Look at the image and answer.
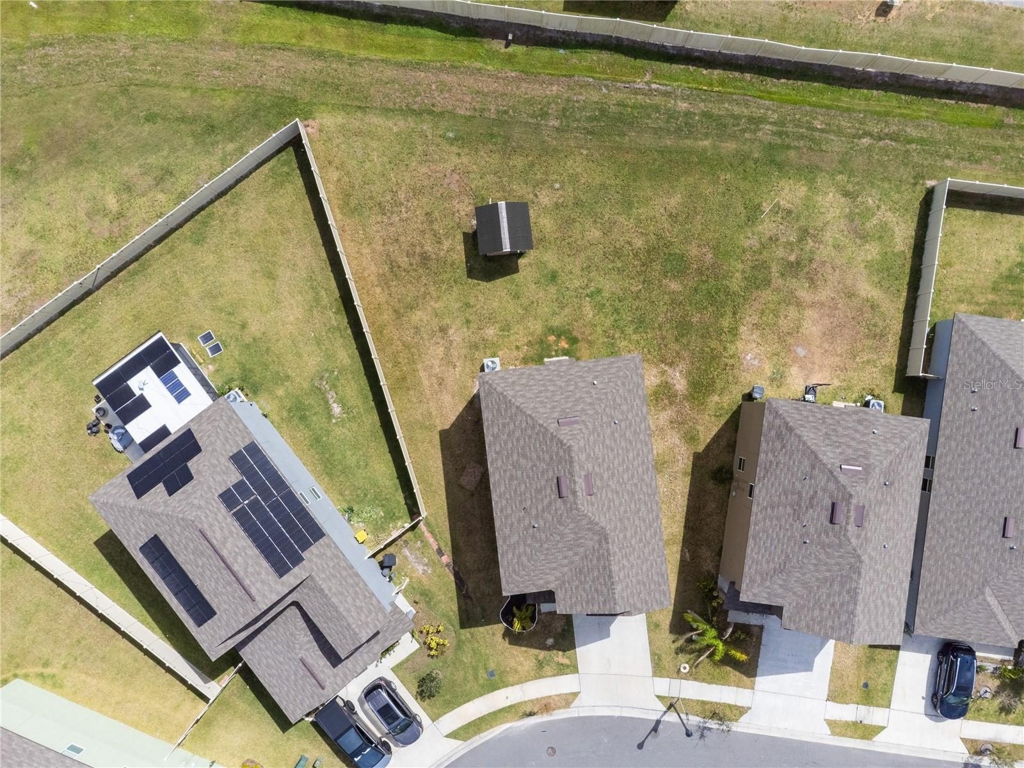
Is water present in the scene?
No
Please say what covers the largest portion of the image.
grass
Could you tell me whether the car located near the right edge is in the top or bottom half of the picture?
bottom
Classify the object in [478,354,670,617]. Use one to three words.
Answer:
house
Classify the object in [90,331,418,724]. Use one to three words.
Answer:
house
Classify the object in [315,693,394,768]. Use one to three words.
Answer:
truck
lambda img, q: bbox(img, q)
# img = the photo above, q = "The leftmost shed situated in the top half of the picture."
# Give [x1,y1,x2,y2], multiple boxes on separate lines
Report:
[475,196,533,259]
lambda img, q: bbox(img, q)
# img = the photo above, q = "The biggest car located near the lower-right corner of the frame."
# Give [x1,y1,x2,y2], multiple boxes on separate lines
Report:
[930,643,977,720]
